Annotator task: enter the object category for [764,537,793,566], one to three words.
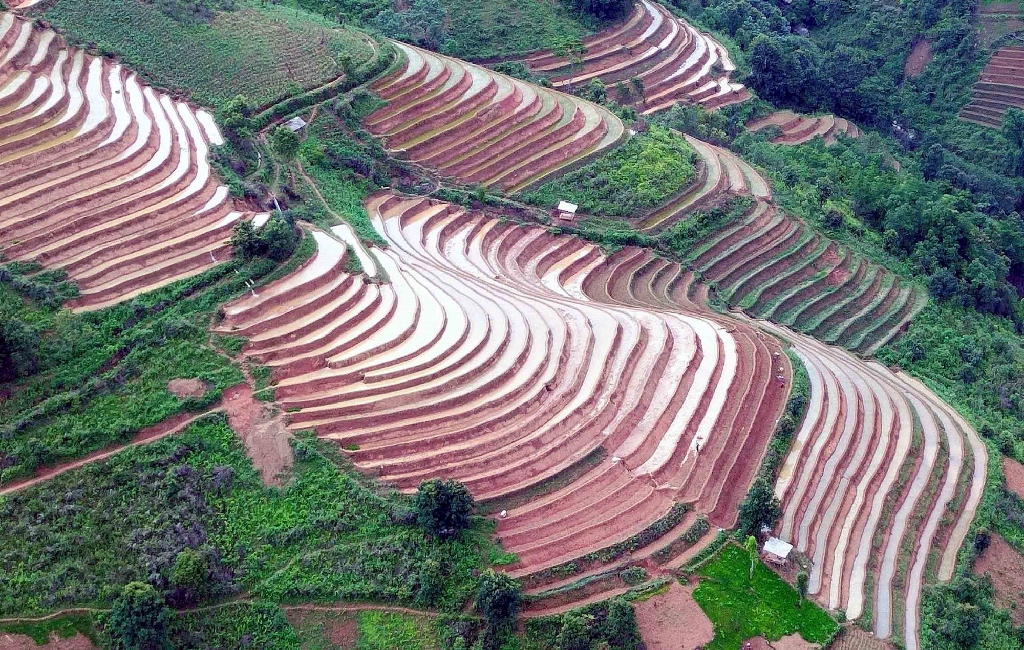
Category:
shed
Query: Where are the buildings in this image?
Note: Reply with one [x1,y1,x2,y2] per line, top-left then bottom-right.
[557,201,578,224]
[285,116,308,137]
[764,537,793,566]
